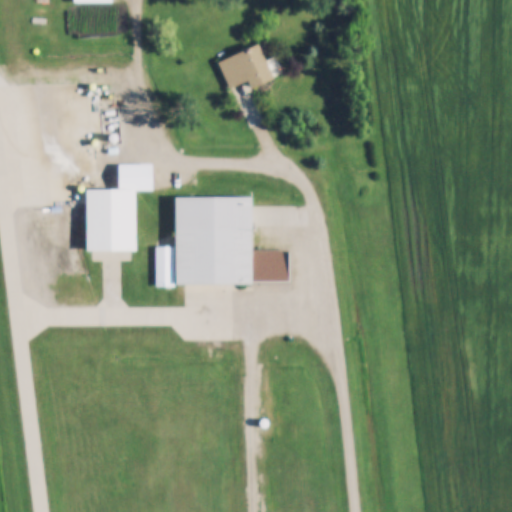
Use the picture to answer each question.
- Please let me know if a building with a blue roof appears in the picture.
No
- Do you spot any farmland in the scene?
Yes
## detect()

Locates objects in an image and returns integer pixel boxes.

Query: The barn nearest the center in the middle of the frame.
[174,196,252,286]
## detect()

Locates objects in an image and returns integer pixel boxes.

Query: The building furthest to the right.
[220,44,282,92]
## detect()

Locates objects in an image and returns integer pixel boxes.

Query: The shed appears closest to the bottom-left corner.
[154,246,174,288]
